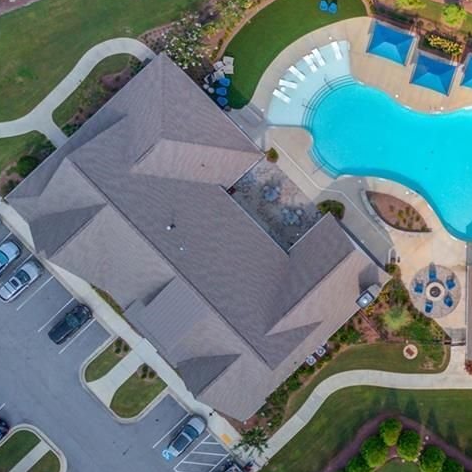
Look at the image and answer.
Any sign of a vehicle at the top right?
No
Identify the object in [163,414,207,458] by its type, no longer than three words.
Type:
car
